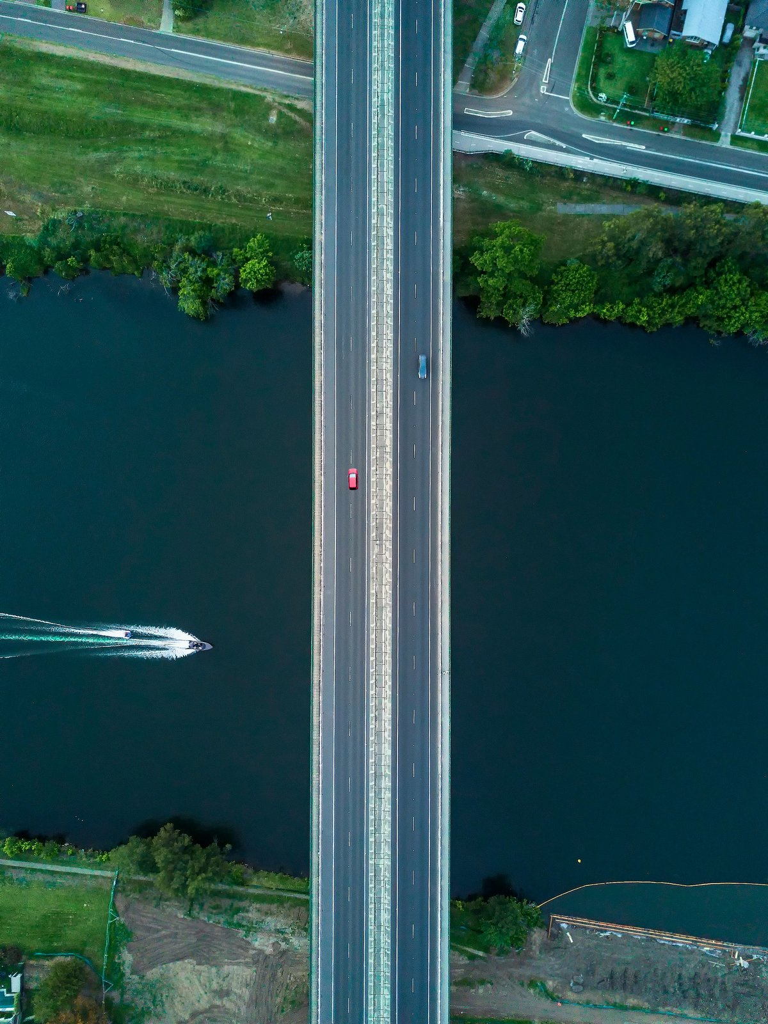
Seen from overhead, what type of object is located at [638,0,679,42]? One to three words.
house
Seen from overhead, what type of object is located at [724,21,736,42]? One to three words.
vehicle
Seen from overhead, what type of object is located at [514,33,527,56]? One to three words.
vehicle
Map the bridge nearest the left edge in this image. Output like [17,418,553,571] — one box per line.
[310,0,453,1024]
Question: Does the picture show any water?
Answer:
Yes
